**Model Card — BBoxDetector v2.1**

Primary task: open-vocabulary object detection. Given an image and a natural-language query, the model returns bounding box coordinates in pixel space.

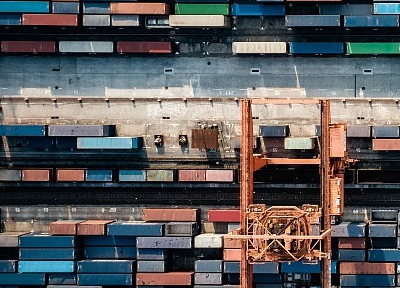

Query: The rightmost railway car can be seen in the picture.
[358,166,400,182]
